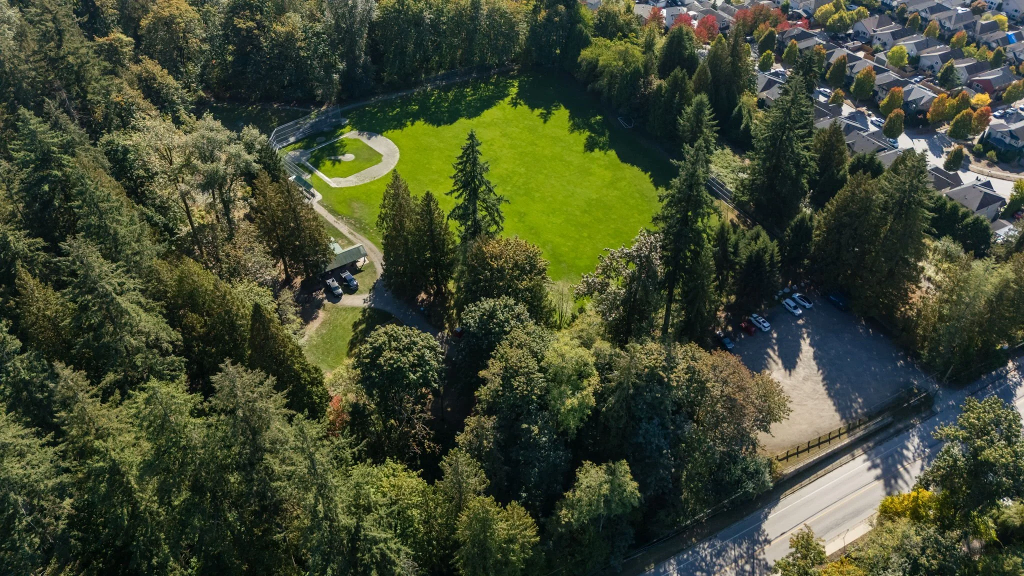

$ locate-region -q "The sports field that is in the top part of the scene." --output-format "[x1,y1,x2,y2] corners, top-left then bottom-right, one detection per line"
[286,72,721,318]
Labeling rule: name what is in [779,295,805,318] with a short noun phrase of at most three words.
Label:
car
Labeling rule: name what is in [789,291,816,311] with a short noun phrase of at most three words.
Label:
car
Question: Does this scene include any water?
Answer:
No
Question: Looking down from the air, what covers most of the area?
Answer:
trees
